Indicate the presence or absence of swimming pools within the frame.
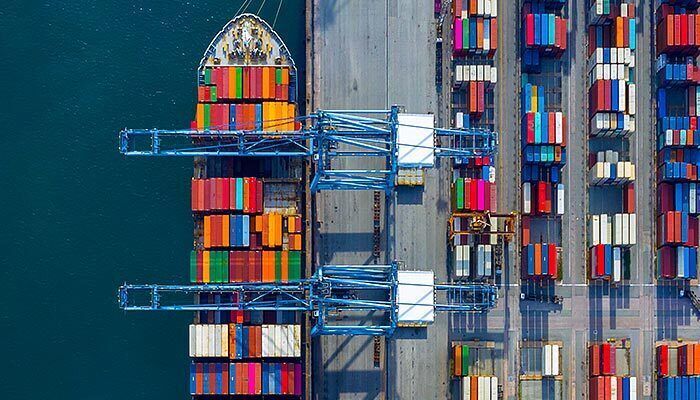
No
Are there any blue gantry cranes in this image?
Yes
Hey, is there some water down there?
Yes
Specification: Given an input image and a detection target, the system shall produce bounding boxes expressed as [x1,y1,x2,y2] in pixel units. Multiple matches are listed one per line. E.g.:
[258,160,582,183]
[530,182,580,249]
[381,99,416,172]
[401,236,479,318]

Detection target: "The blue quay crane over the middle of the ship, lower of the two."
[117,261,498,346]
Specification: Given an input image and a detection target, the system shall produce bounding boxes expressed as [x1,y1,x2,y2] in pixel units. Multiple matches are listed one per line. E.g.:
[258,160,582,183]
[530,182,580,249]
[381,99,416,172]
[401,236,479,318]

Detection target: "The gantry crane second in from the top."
[448,205,516,250]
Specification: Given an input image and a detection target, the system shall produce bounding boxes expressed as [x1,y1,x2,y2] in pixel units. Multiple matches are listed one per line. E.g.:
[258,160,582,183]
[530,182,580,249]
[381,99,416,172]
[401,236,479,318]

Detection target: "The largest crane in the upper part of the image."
[117,105,498,210]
